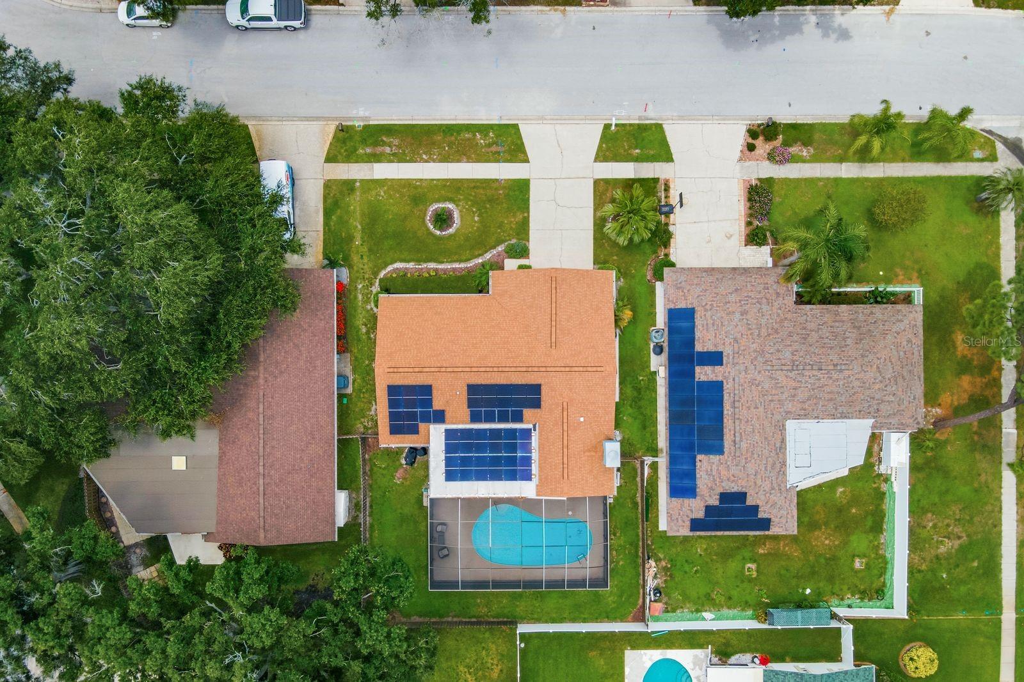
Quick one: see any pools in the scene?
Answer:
Yes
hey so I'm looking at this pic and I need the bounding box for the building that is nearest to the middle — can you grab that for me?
[374,257,618,500]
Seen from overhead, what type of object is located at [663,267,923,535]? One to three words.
house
